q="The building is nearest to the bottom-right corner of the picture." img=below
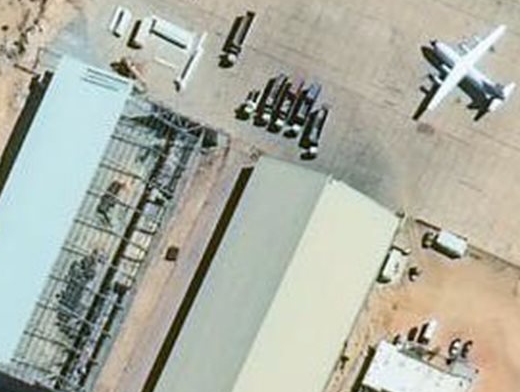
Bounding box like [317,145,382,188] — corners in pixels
[364,333,483,392]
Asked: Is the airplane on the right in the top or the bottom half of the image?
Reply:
top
